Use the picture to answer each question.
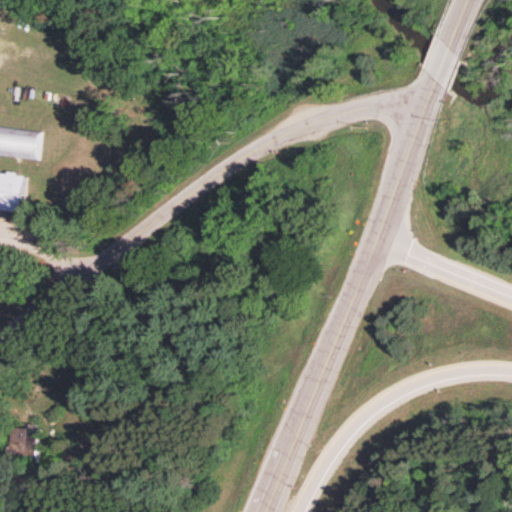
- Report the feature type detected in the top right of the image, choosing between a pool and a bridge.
bridge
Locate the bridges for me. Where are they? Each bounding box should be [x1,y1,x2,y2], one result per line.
[419,34,465,105]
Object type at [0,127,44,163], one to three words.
building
